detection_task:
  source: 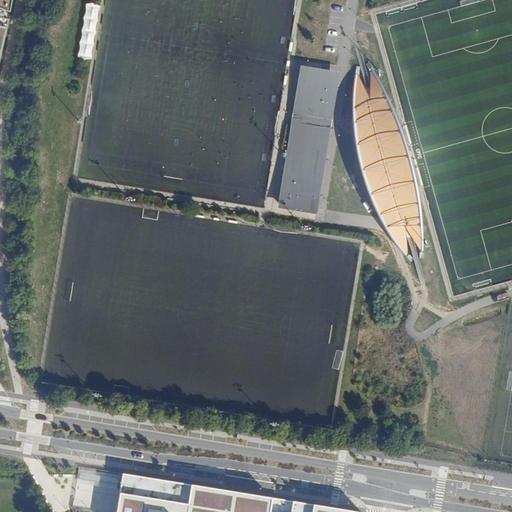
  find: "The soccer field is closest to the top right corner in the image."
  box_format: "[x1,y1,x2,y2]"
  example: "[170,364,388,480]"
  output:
[376,0,512,296]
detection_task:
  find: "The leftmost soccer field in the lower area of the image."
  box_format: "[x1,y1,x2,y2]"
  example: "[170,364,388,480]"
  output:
[42,198,360,428]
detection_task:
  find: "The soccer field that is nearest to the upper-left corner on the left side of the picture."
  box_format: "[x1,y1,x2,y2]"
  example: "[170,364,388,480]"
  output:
[78,0,294,208]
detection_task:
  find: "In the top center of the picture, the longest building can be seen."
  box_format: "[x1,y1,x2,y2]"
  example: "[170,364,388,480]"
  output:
[280,66,340,214]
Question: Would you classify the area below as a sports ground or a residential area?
sports ground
